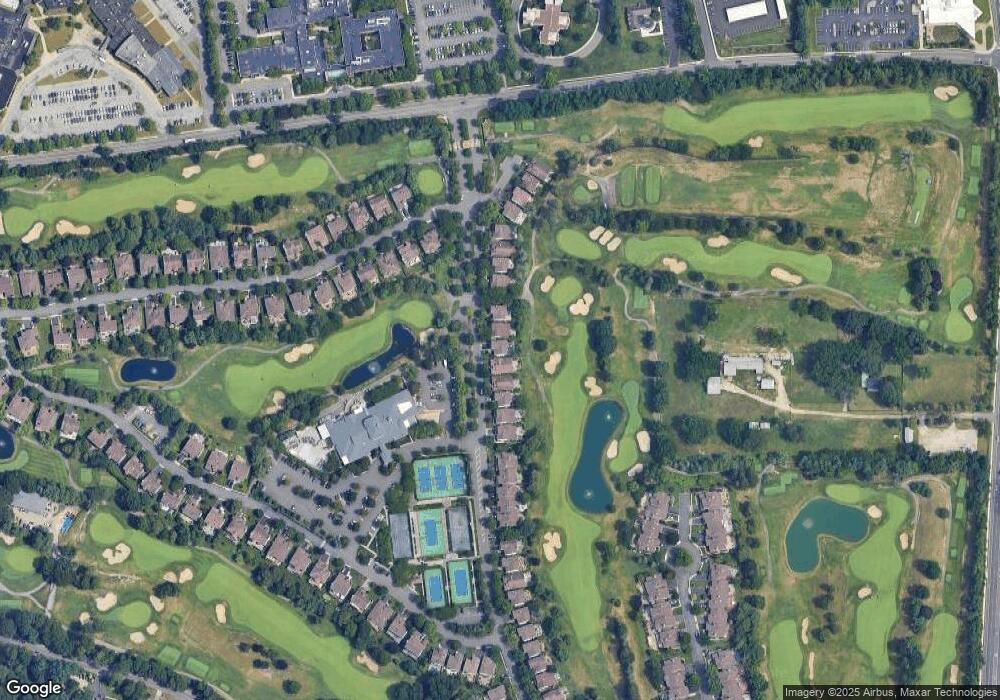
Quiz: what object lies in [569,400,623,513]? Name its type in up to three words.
pond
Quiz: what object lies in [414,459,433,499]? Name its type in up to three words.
tennis court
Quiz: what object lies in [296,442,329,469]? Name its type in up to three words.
swimming pool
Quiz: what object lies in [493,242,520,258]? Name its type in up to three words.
house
